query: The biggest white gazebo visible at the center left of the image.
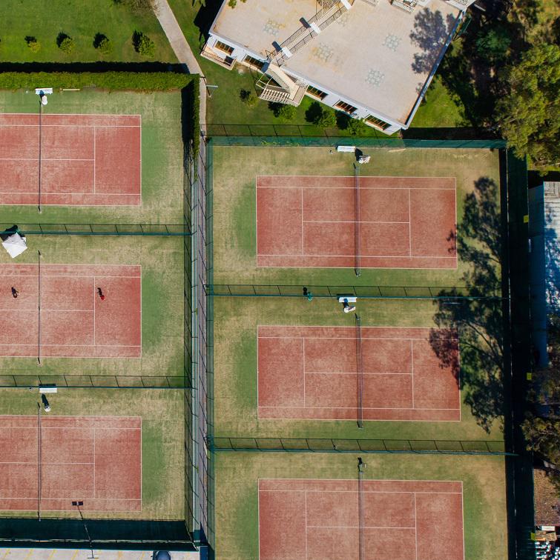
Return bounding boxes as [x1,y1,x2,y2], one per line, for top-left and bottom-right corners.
[2,232,29,263]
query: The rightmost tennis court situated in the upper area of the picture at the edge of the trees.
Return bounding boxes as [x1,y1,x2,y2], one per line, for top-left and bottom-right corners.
[207,146,510,298]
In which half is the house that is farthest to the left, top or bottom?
top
